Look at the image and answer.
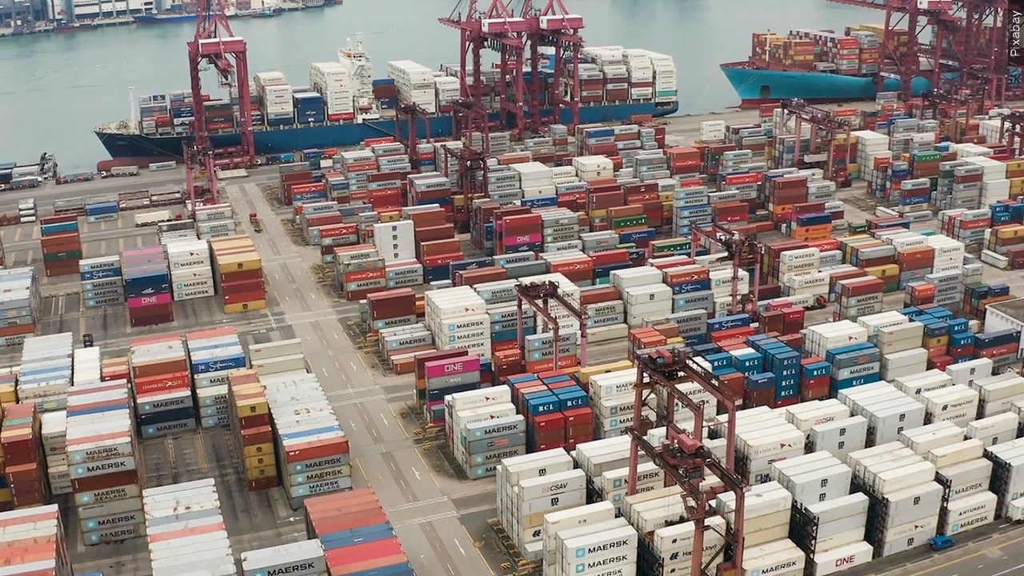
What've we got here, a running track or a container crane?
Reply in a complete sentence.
The image shows a container crane.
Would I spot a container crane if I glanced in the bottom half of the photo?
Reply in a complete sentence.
Yes, there is a container crane in the bottom half of the photo.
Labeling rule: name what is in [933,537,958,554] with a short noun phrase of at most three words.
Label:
vehicle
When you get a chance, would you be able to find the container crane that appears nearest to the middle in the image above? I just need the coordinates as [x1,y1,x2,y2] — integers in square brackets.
[511,272,599,386]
